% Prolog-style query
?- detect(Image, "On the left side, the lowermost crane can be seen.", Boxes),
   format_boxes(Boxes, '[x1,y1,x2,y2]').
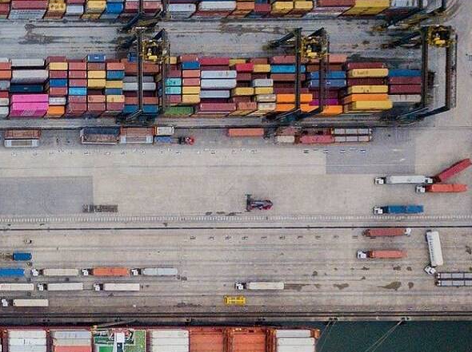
[119,28,169,122]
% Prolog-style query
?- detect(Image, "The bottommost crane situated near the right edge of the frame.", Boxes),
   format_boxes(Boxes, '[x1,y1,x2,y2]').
[391,27,453,120]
